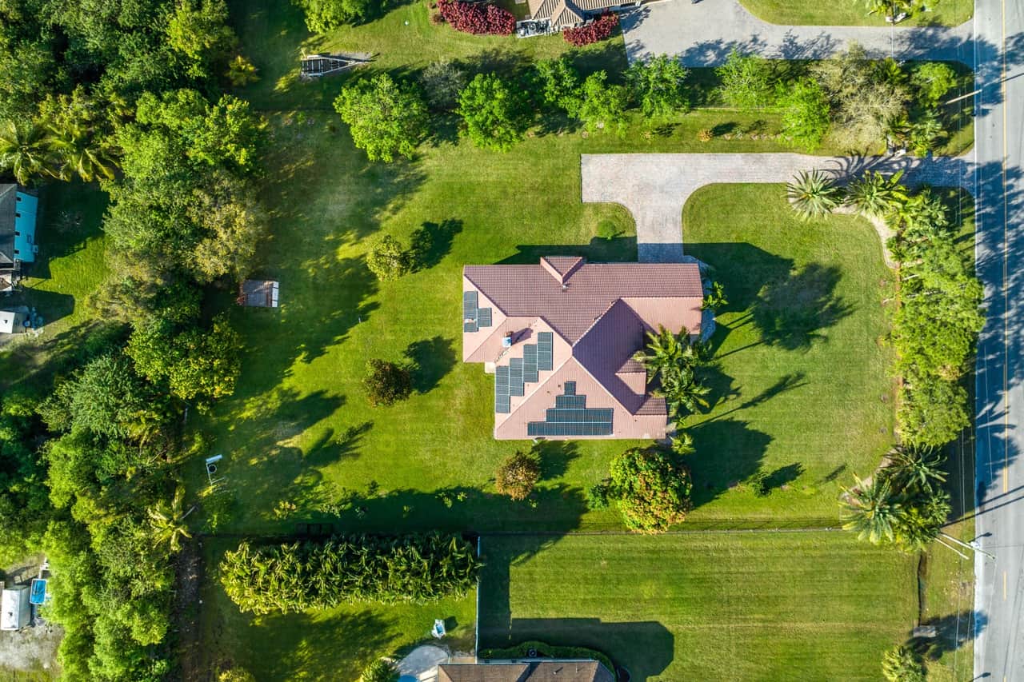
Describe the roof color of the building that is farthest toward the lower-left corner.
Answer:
white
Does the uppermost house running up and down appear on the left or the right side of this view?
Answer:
left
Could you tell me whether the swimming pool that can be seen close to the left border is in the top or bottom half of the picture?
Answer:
bottom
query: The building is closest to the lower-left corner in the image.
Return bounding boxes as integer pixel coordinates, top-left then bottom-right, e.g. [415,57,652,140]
[2,581,35,631]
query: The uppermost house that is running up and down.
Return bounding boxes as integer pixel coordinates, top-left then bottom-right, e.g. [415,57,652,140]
[0,182,38,271]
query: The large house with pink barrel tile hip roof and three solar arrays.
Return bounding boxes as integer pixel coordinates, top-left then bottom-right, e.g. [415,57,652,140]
[463,256,703,444]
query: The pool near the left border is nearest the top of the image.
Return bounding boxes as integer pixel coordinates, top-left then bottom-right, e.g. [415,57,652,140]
[31,575,53,605]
